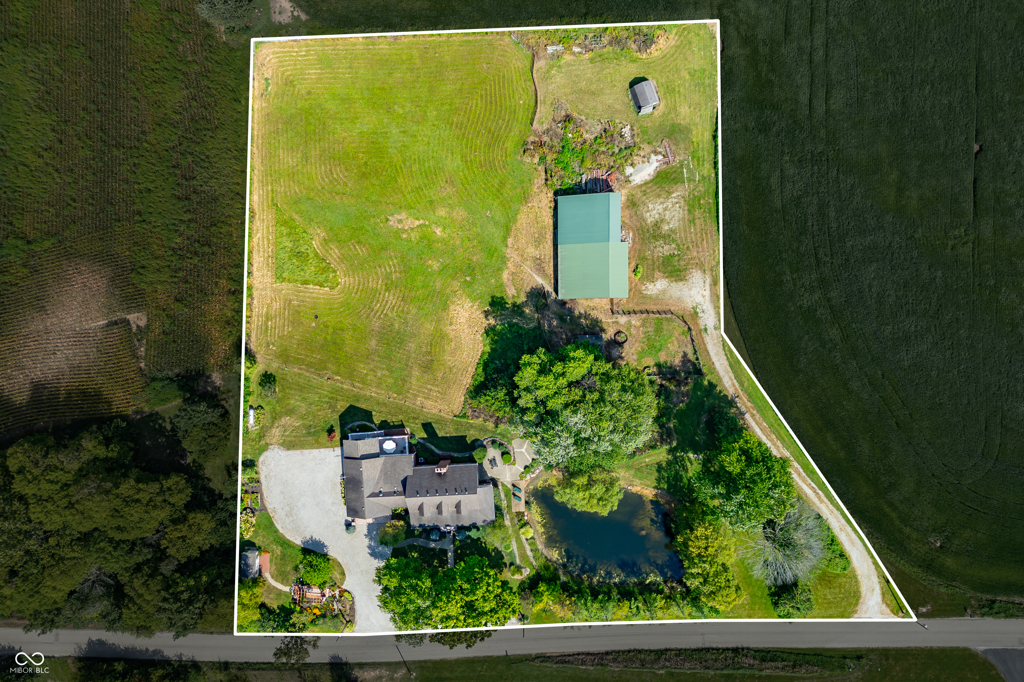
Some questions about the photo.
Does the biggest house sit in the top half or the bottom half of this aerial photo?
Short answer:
bottom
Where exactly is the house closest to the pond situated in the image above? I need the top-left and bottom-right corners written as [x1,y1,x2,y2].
[339,427,496,533]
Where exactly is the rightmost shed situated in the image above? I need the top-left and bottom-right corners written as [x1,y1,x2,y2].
[629,81,659,121]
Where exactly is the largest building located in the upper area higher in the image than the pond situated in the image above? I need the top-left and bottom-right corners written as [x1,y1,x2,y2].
[557,193,629,299]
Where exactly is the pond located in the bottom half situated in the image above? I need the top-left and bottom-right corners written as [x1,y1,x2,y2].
[534,482,678,583]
